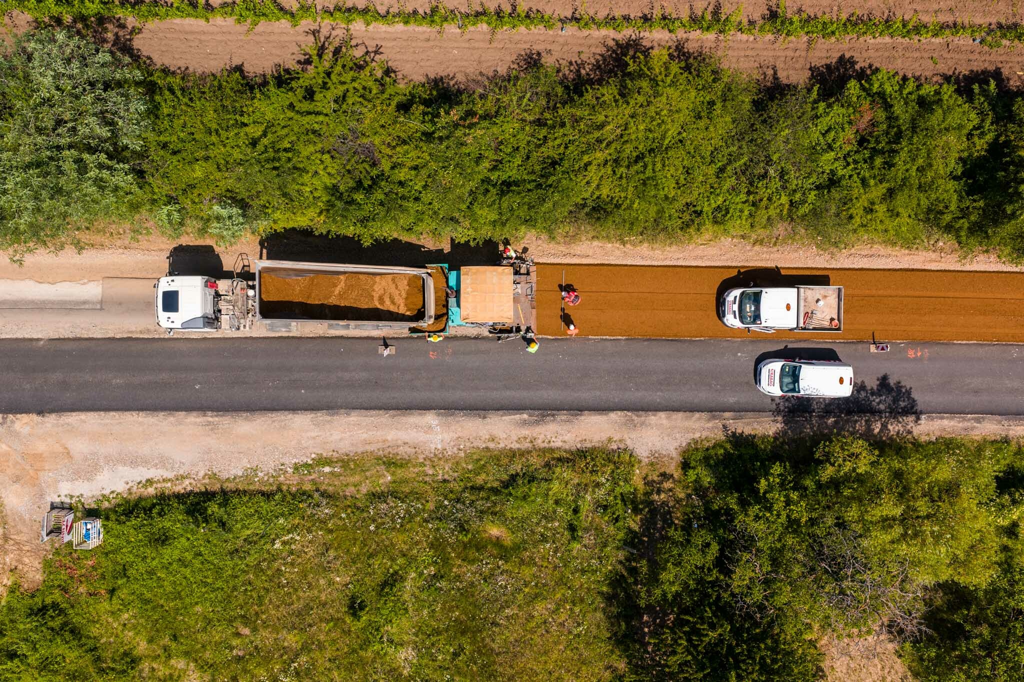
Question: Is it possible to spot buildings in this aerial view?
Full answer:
No, the photo shows no building.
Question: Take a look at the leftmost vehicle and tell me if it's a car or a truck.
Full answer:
I'd say the leftmost vehicle is a truck.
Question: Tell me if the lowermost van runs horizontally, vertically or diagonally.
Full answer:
The lowermost van is laid out horizontally.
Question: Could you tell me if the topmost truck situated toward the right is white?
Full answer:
Yes, white is the color of the topmost truck situated toward the right.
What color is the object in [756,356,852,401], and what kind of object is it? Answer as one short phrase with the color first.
white van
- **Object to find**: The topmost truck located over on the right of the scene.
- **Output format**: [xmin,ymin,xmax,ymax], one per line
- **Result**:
[719,282,844,336]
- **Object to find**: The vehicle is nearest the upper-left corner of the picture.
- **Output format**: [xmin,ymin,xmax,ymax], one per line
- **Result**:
[156,253,260,334]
